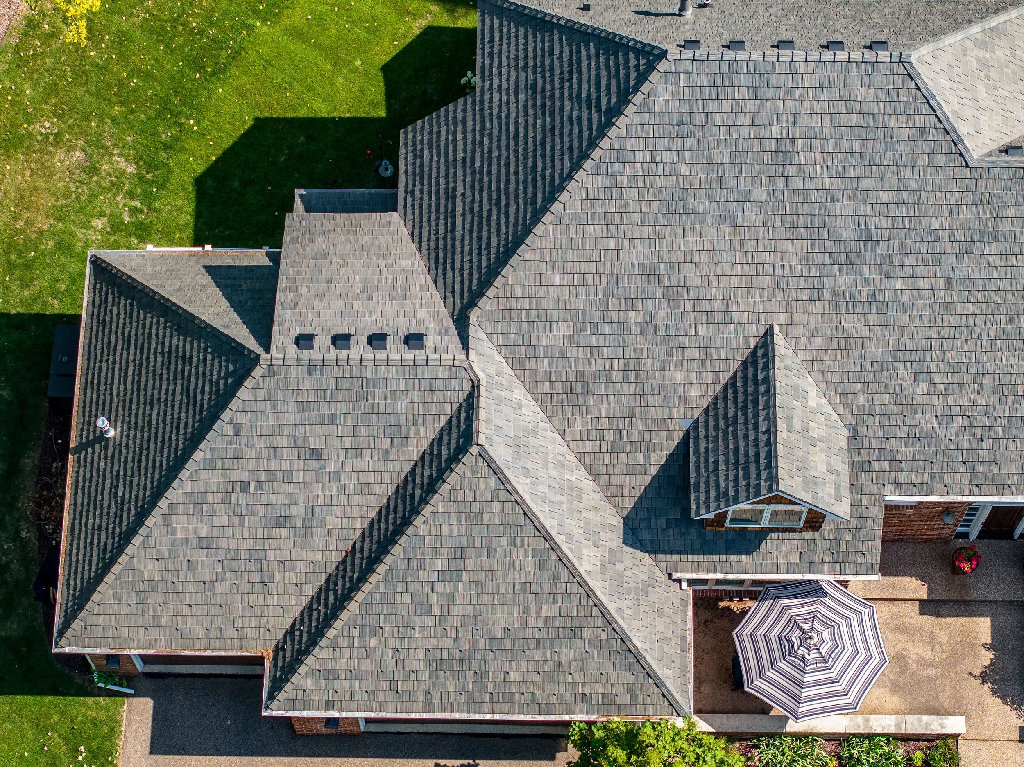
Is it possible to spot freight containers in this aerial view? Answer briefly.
No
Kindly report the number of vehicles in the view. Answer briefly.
0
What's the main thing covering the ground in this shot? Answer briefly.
buildings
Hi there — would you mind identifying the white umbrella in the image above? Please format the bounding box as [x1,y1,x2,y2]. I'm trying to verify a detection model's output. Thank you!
[732,585,890,723]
